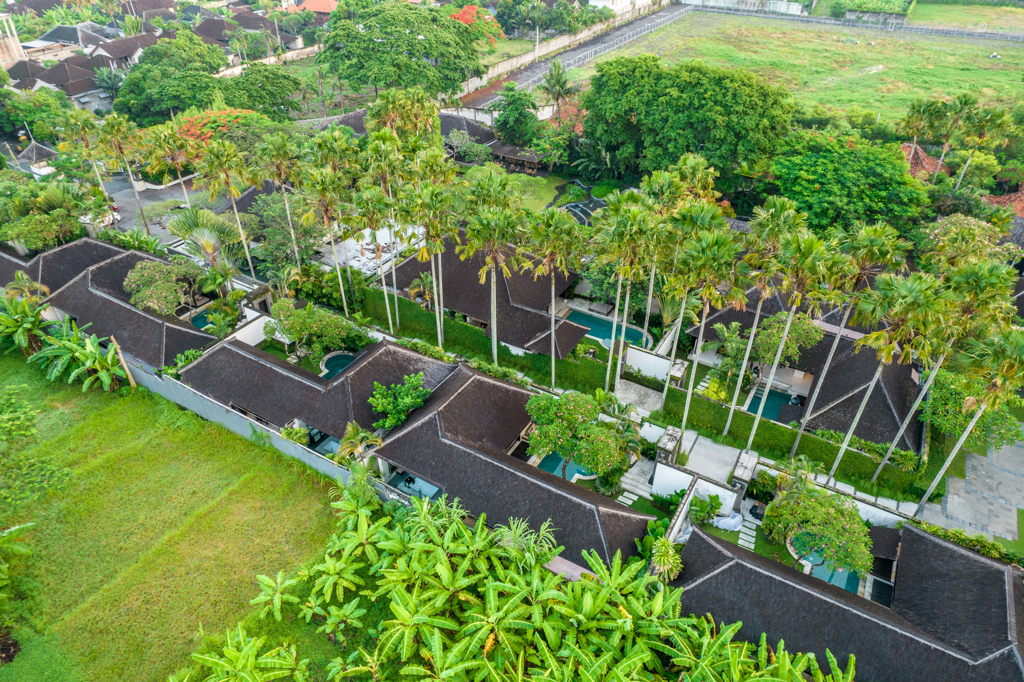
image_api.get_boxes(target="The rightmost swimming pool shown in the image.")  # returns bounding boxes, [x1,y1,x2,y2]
[783,547,873,598]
